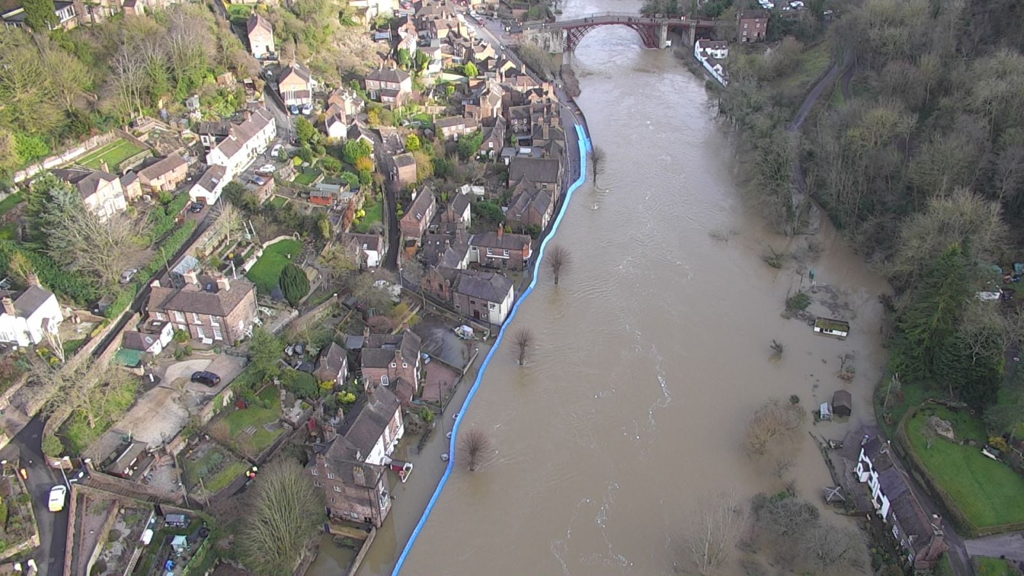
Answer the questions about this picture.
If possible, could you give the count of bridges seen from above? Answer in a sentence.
I count 1 bridge.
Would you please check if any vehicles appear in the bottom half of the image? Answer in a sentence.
Yes, in the bottom half of the image there is a vehicle.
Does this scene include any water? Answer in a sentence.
Yes, there's water in this view.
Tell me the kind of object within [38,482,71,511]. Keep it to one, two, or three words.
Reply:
van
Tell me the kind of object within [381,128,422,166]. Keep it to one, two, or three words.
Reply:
building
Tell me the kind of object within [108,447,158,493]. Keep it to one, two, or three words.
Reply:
shed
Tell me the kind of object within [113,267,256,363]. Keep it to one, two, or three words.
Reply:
house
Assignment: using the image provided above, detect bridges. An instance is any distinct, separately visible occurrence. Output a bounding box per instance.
[517,10,733,60]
